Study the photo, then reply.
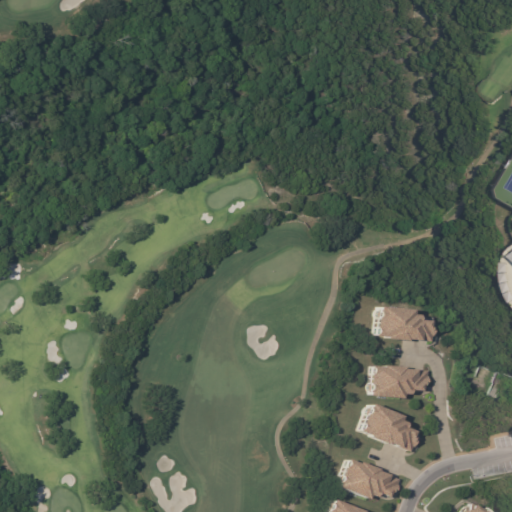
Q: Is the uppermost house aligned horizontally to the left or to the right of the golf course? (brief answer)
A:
on its right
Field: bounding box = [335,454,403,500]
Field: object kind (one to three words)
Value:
house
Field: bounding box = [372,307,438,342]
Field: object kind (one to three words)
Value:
house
